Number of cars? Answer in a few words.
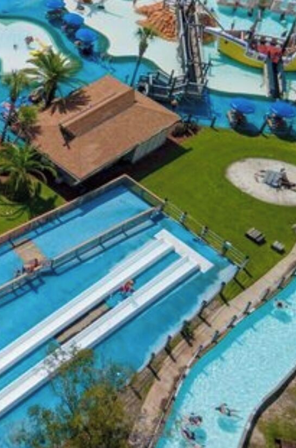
zero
